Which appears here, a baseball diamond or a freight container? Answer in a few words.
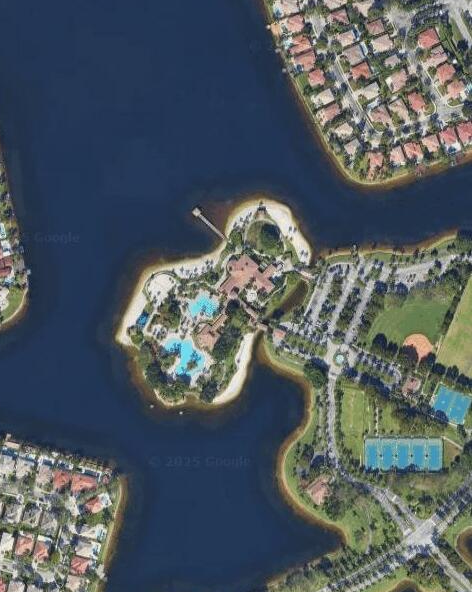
baseball diamond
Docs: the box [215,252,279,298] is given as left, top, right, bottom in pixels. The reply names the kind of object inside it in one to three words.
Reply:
building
